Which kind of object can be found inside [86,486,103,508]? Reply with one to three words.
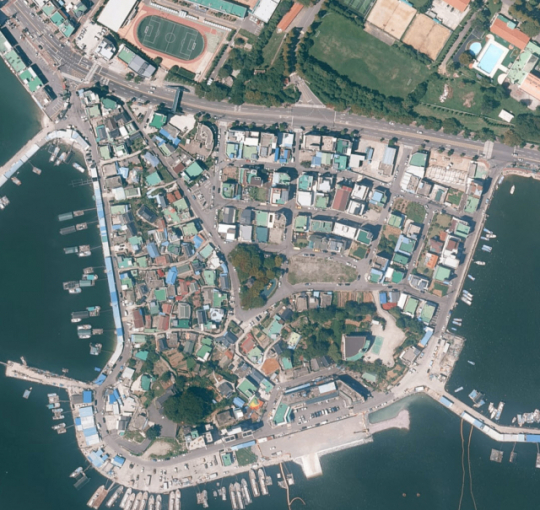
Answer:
boat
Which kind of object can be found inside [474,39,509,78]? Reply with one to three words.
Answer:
swimming pool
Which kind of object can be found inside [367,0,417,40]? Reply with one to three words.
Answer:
sports court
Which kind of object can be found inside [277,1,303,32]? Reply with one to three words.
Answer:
house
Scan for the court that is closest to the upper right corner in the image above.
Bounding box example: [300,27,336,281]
[402,13,452,60]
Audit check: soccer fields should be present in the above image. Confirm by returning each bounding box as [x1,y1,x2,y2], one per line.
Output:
[138,16,203,60]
